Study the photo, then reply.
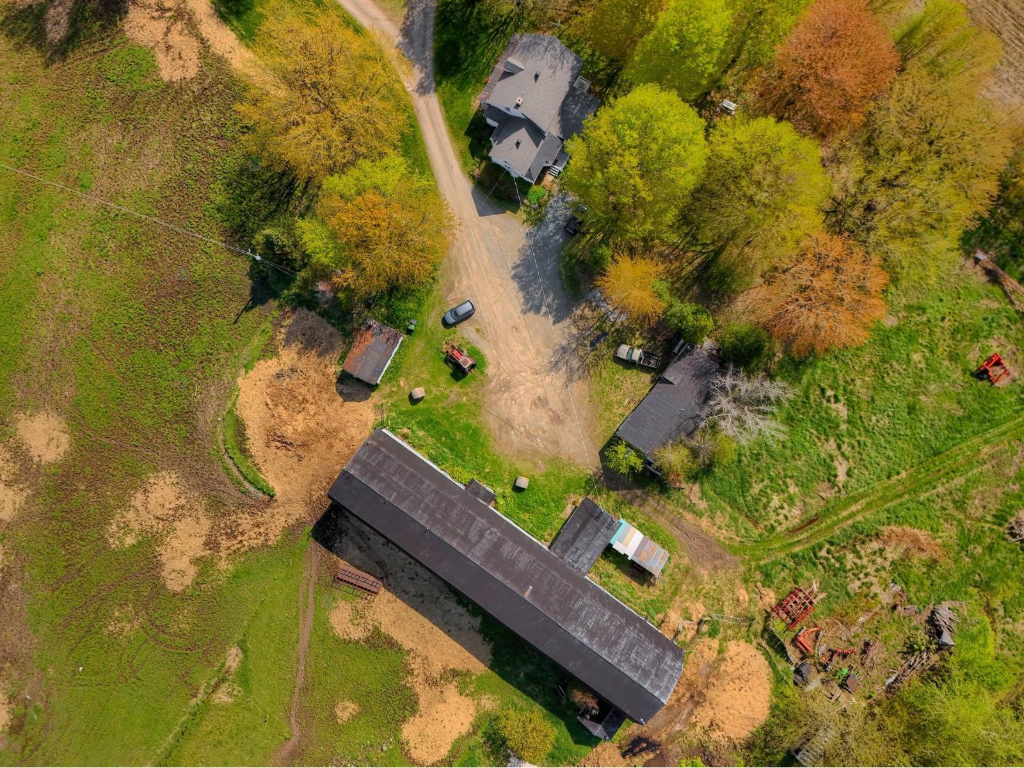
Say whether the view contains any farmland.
Yes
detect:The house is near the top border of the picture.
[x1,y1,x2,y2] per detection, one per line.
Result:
[478,32,598,196]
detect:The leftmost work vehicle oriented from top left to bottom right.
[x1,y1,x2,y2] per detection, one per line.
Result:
[440,341,474,373]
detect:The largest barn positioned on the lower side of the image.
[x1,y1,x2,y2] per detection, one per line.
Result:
[328,428,686,722]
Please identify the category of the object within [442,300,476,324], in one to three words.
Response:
car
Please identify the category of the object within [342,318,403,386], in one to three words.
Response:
shed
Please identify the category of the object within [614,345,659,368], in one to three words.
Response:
truck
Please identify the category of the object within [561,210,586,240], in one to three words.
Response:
car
